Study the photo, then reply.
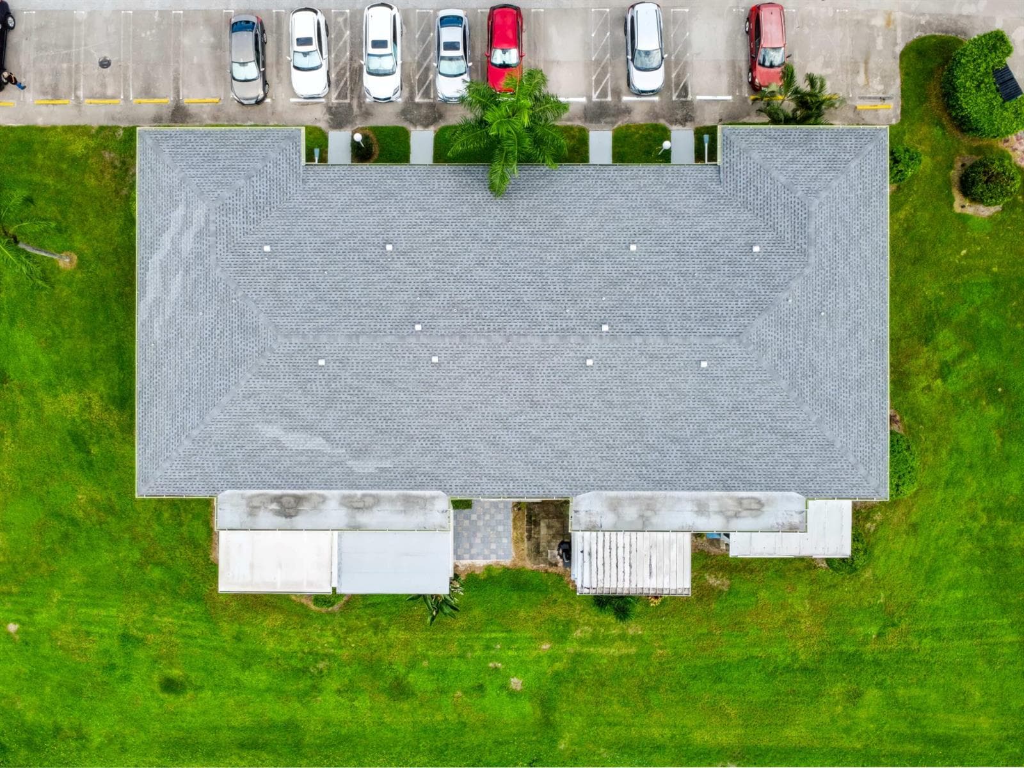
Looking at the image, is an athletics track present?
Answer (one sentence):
No, I can see no athletics track in this picture.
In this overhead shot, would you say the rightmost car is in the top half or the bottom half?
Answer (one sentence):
The rightmost car is in the top half of the image.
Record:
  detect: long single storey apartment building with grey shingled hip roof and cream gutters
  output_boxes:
[136,127,889,533]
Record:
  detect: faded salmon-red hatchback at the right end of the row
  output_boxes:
[744,6,791,94]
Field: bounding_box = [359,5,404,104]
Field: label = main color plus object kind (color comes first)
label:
white car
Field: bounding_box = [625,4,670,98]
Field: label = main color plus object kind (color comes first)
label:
white car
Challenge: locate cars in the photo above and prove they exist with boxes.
[224,14,270,108]
[285,9,330,101]
[0,1,13,93]
[625,4,670,98]
[431,8,474,105]
[483,8,527,96]
[744,6,791,94]
[359,5,404,104]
